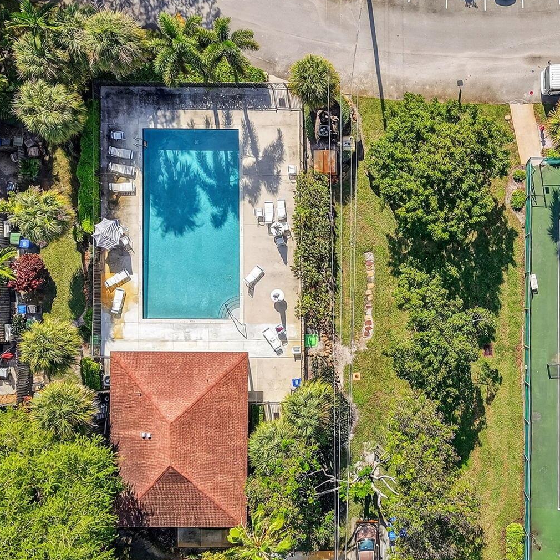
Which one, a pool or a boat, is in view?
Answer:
pool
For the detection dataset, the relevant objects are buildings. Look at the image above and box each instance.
[314,149,339,177]
[109,350,250,529]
